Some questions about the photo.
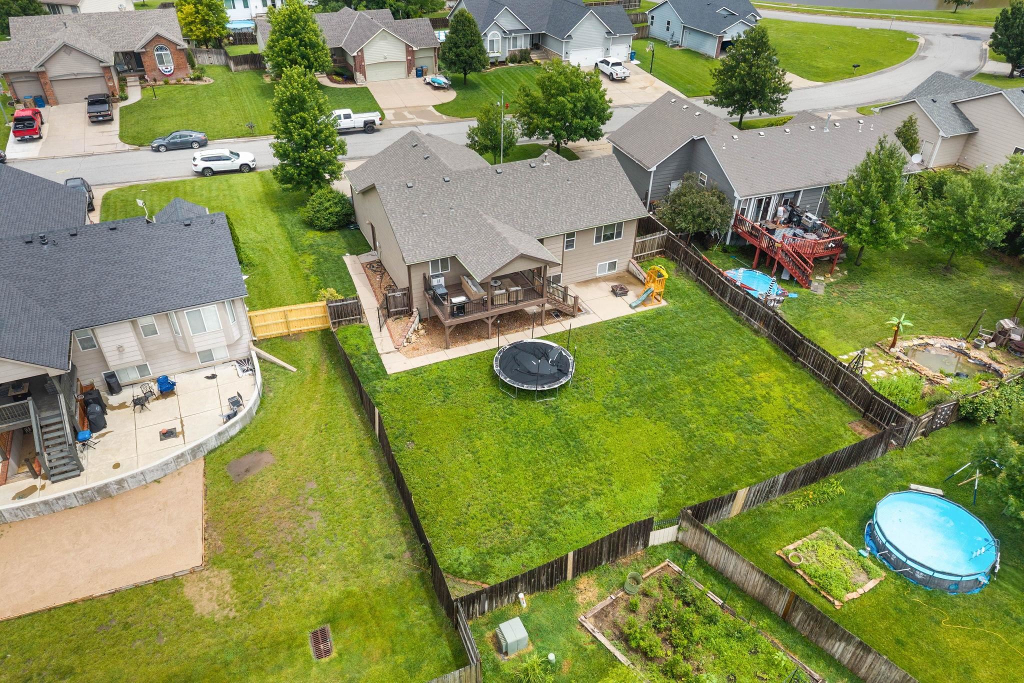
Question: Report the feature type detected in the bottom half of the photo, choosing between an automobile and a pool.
pool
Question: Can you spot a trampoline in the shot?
Yes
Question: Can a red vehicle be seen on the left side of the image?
Yes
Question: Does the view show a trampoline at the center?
Yes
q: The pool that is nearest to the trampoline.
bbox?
[729,271,792,308]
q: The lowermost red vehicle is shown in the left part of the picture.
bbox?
[9,109,38,137]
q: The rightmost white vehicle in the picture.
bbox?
[602,58,630,79]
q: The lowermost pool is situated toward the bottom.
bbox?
[868,491,998,596]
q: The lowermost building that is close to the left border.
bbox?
[0,164,255,390]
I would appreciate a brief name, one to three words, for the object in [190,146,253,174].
car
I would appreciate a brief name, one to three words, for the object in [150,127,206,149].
car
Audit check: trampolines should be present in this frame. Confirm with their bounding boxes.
[494,322,575,400]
